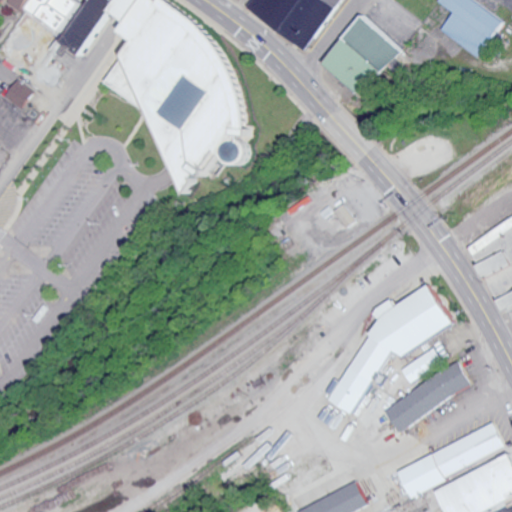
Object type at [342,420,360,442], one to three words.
vehicle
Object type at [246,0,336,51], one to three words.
building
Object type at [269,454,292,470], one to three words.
vehicle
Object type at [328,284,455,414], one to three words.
warehouse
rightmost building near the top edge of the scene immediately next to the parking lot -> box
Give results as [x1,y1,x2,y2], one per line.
[102,0,253,196]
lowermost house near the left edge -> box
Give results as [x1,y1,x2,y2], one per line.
[6,79,36,109]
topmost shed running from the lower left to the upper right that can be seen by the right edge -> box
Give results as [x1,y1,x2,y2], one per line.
[468,217,512,254]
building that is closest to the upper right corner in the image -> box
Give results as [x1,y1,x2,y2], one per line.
[440,0,504,61]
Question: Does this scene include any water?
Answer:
No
